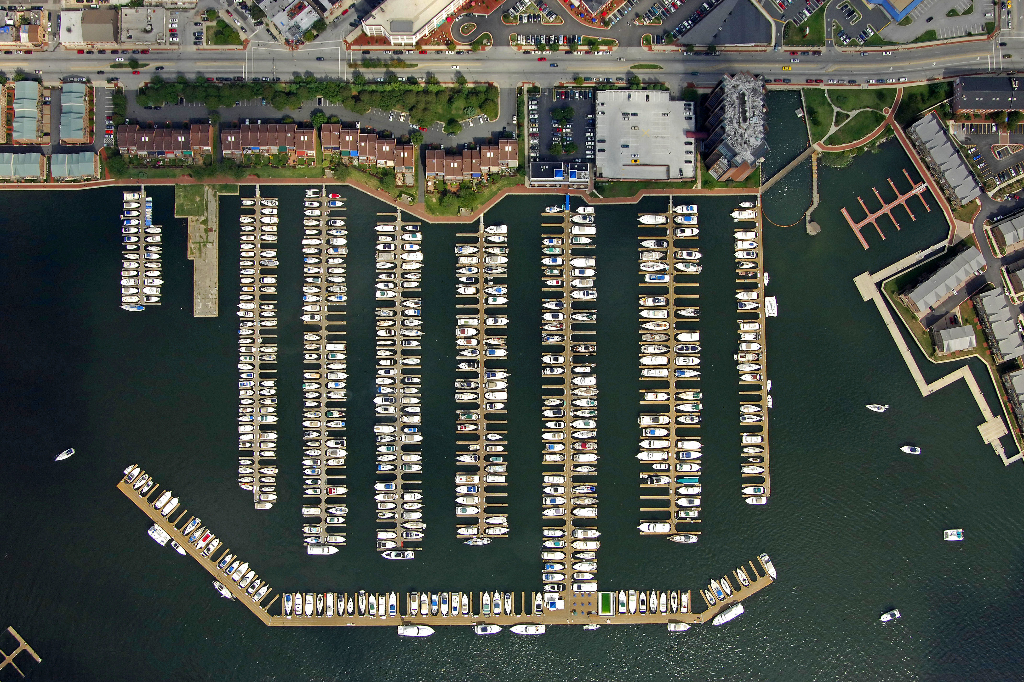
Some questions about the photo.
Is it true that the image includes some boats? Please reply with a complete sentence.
Yes, a boat is visible in the scene.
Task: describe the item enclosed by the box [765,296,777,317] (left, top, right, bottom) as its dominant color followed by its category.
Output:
white boat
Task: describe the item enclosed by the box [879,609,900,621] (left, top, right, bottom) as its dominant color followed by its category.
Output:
white boat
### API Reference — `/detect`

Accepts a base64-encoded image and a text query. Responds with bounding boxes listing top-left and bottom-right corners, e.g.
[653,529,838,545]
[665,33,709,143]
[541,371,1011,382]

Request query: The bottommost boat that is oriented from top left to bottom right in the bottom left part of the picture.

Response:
[211,580,235,602]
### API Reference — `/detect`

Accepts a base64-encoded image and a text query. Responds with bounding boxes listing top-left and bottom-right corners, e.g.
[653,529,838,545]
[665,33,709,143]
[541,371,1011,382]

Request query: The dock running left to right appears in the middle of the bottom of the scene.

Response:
[117,465,773,626]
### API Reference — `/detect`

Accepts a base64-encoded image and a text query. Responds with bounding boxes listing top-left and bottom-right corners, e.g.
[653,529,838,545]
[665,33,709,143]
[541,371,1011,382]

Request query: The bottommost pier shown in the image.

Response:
[0,627,42,678]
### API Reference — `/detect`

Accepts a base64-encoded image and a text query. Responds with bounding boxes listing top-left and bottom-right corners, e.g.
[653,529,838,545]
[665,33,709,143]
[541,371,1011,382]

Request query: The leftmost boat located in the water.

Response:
[52,448,76,461]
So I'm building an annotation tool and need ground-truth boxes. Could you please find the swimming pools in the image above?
[597,592,615,616]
